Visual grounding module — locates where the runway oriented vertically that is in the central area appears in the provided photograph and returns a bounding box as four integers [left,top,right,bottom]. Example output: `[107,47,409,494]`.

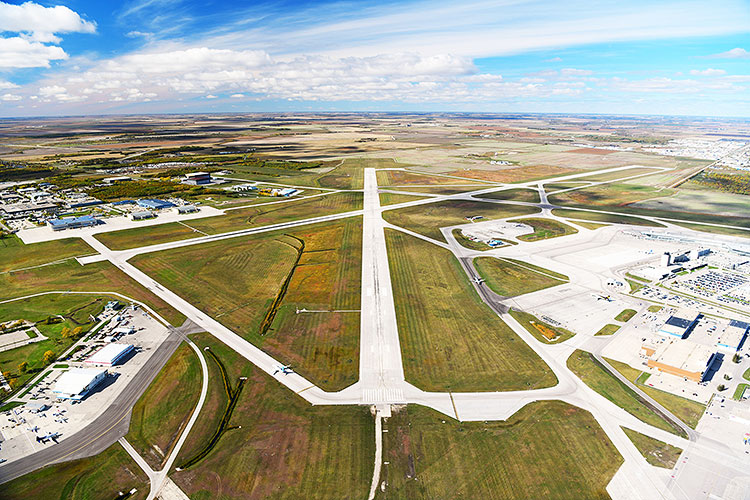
[359,168,407,403]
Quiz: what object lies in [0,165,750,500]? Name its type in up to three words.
airport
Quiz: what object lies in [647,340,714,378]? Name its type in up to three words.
building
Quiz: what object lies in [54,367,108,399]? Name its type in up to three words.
hangar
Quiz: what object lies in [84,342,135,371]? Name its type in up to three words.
hangar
